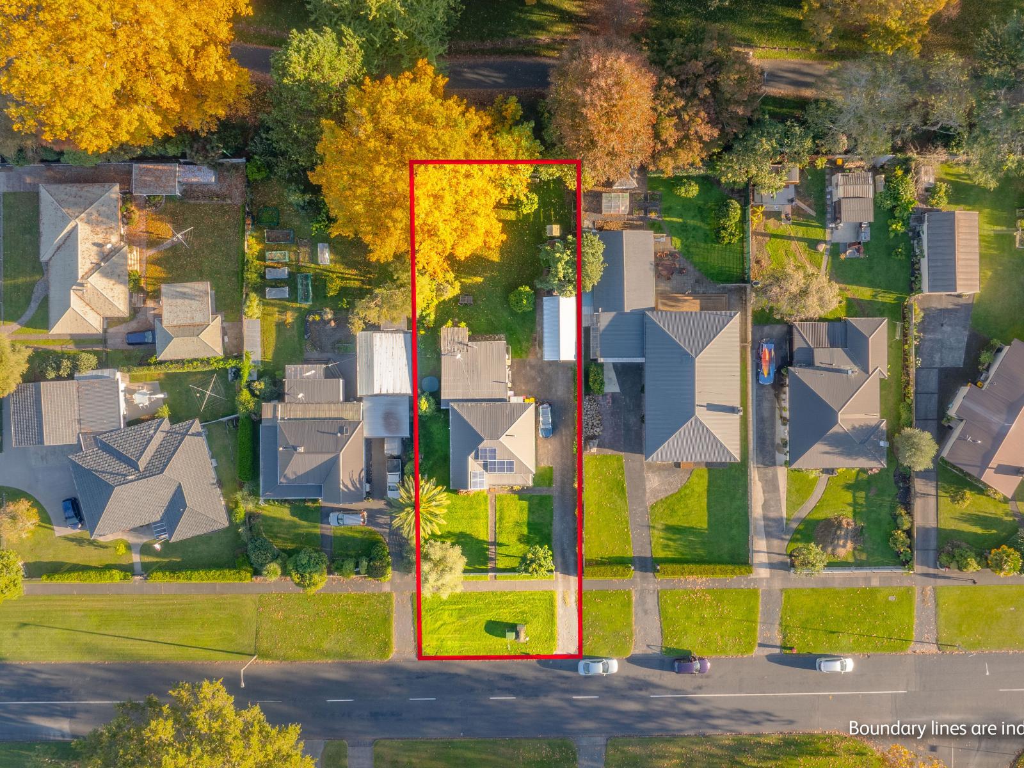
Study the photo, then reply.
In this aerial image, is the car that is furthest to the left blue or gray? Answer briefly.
blue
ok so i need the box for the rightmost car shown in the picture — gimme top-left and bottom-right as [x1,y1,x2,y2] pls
[816,656,853,675]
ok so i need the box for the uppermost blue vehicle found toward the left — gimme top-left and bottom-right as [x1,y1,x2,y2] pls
[126,329,156,346]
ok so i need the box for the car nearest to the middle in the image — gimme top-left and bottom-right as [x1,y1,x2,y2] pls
[536,399,554,440]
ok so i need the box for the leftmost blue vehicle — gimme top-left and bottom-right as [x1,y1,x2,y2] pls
[61,494,86,531]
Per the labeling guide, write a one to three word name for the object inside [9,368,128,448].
building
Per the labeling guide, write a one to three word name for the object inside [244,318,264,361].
shed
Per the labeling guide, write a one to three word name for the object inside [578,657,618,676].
car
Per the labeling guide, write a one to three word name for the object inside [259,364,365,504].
house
